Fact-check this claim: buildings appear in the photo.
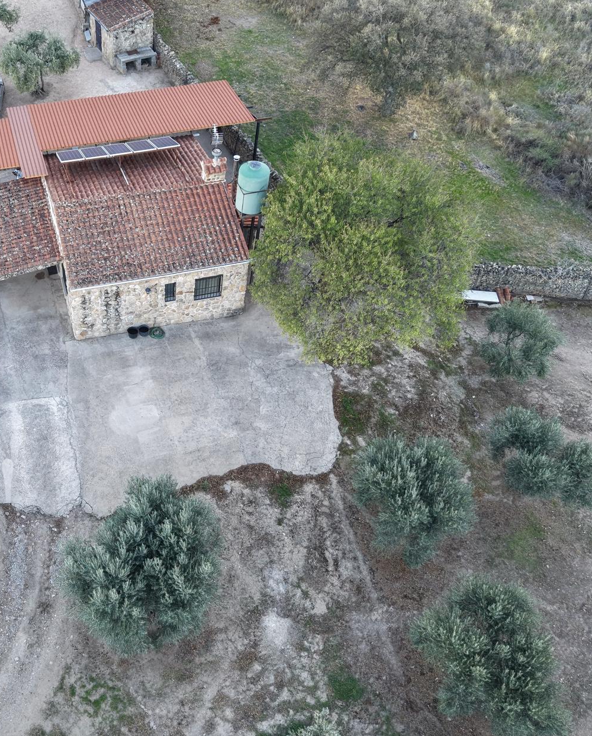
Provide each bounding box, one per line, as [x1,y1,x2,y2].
[82,0,159,66]
[41,132,262,339]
